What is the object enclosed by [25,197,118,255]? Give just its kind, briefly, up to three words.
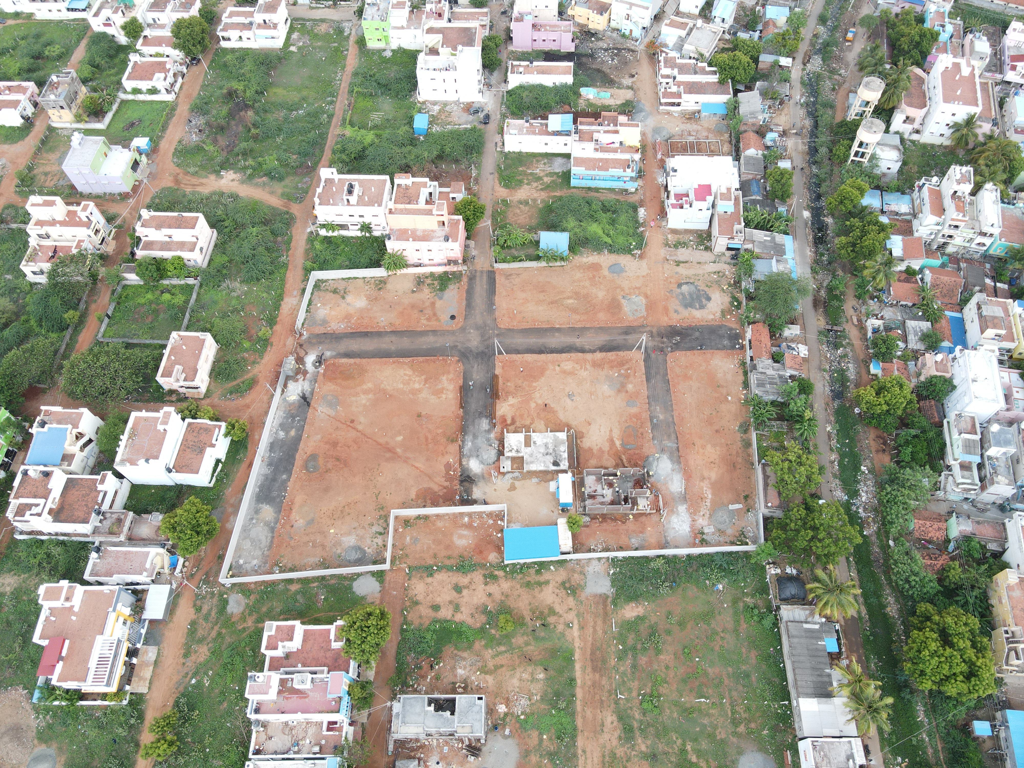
house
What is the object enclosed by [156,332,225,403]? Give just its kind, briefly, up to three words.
house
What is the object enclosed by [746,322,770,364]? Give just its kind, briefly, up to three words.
shed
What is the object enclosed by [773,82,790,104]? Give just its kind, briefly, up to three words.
shed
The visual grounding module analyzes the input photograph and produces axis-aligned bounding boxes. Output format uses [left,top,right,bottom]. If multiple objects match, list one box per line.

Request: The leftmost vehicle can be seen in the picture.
[125,246,138,259]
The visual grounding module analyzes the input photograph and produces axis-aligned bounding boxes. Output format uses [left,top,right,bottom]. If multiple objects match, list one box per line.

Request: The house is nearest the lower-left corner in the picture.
[34,585,147,696]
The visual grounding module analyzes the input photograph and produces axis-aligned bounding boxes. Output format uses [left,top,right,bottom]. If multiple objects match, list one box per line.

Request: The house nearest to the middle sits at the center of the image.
[501,427,576,480]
